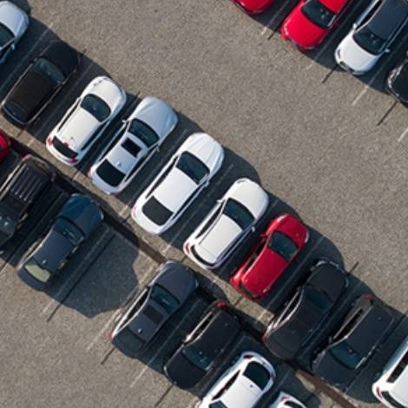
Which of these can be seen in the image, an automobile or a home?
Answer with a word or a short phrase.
automobile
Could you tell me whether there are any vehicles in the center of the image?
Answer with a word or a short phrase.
Yes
